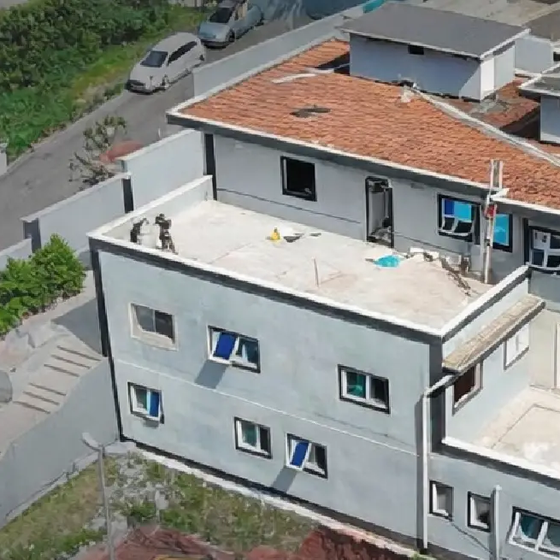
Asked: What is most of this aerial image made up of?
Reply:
buildings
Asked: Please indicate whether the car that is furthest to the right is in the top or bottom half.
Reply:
top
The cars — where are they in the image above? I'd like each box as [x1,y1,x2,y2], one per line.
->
[119,30,207,98]
[191,0,270,51]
